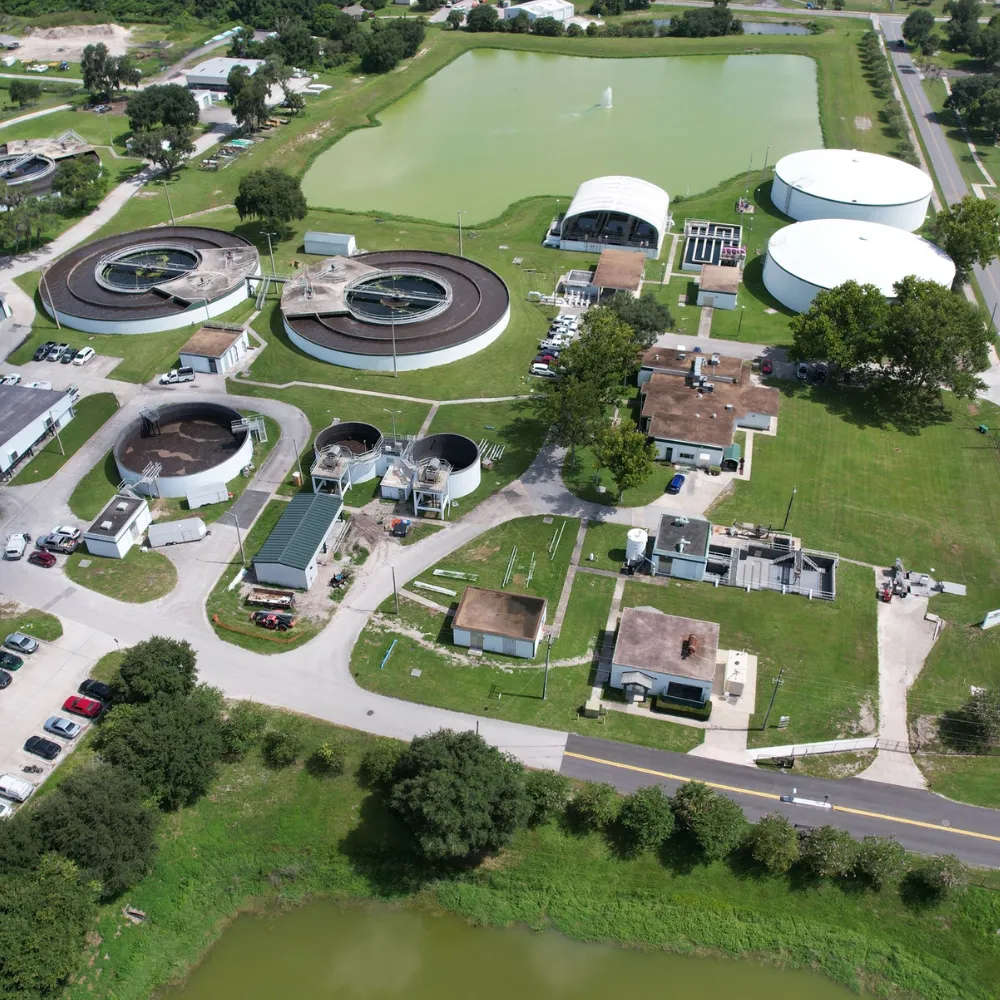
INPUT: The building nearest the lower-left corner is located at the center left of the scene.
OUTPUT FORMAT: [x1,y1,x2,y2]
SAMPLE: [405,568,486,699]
[84,498,147,557]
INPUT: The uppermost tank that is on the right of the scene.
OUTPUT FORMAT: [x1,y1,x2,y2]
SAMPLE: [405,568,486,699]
[771,148,934,226]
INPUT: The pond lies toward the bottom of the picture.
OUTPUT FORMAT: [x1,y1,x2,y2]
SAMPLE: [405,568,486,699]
[148,896,874,1000]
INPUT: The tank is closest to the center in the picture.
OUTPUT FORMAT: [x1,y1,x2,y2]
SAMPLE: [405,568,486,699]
[408,433,480,521]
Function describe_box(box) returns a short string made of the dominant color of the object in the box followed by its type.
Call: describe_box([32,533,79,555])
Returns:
gray truck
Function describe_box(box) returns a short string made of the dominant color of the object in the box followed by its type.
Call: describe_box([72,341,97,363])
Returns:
white vehicle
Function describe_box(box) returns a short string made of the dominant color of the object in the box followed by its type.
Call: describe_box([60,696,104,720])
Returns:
red car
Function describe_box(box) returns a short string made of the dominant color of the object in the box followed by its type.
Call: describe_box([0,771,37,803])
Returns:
white van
